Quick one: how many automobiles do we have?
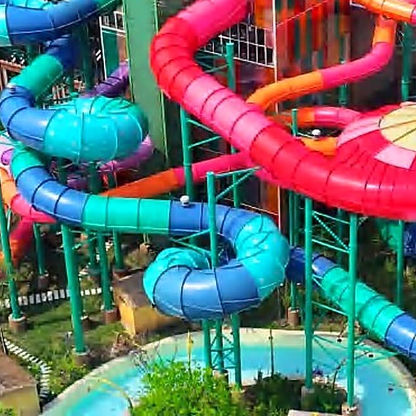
zero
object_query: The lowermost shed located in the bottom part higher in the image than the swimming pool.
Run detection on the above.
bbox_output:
[103,270,188,342]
